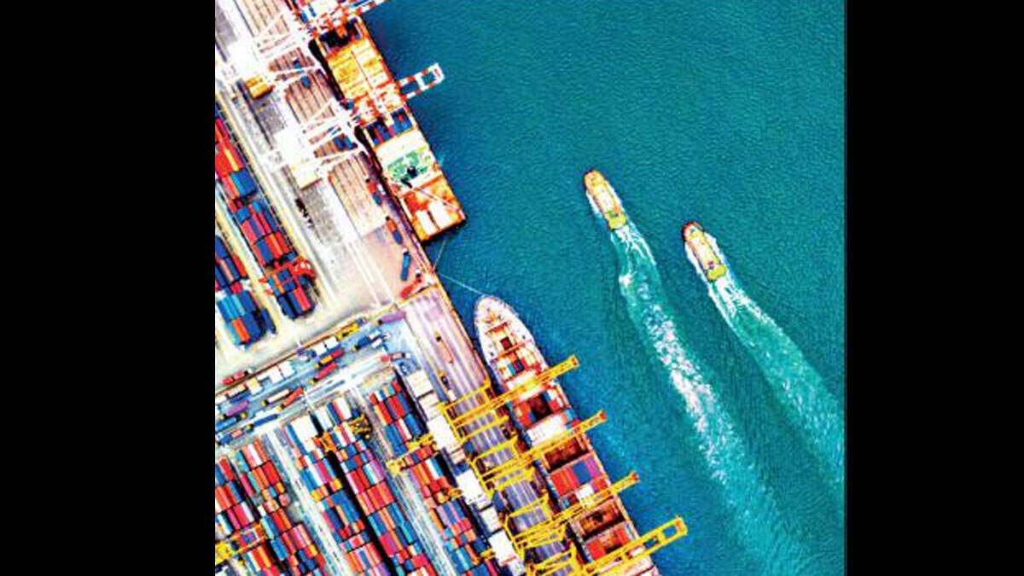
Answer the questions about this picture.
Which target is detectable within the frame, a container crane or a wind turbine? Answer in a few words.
container crane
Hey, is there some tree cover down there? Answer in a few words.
No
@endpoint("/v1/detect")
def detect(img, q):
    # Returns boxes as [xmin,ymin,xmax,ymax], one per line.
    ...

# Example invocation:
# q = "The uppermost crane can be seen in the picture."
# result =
[216,0,379,86]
